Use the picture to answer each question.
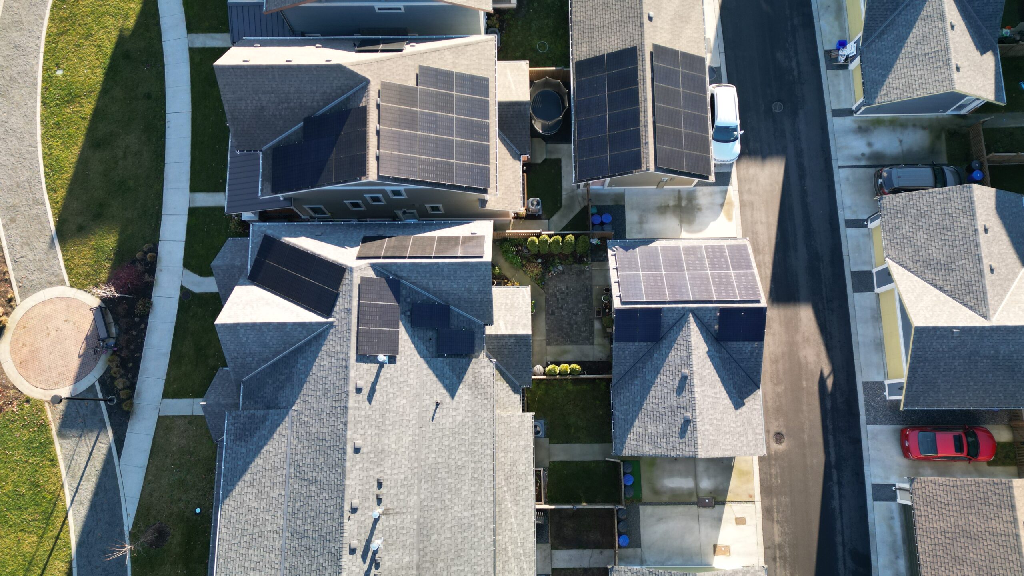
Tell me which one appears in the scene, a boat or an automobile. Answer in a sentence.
Of the two, only an automobile appears.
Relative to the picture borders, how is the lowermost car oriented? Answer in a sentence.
I'd say the lowermost car is aligned from left to right in the picture.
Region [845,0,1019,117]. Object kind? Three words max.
building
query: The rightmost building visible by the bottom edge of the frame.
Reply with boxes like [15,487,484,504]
[895,478,1024,576]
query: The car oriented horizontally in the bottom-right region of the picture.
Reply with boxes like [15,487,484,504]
[897,420,998,468]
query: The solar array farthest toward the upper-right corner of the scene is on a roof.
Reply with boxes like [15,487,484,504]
[653,44,711,177]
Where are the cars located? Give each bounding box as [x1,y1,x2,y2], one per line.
[871,158,962,197]
[897,420,998,468]
[711,80,746,164]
